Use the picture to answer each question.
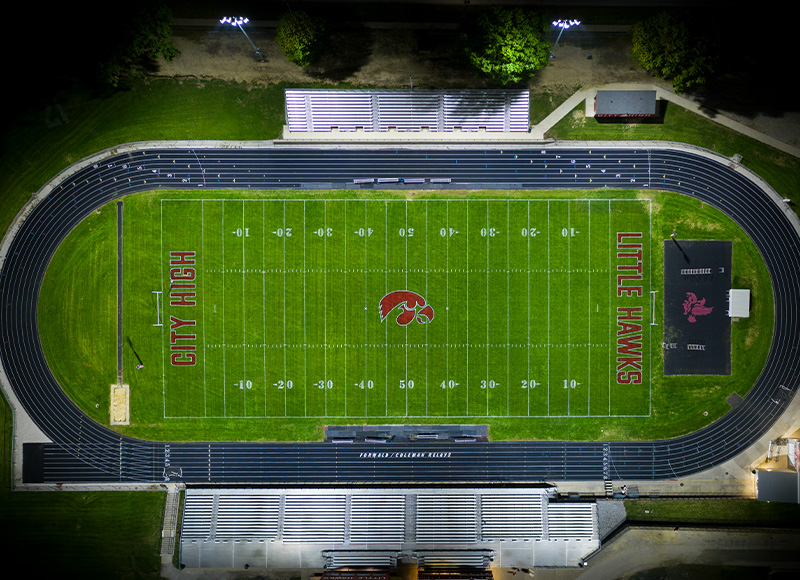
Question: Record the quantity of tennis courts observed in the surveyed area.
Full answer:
There are no tennis courts in the image.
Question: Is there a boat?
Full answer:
No, the photo shows no boat.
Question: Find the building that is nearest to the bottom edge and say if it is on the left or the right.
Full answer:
It is on the right.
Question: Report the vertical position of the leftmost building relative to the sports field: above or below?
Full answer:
It's above the sports field that the leftmost building shows up.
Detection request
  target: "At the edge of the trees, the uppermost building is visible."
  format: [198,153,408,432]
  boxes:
[591,89,656,119]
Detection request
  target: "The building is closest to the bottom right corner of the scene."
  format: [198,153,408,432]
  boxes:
[753,468,800,503]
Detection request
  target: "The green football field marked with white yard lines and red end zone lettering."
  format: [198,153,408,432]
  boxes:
[40,188,773,442]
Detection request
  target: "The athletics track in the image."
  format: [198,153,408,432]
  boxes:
[0,147,800,483]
